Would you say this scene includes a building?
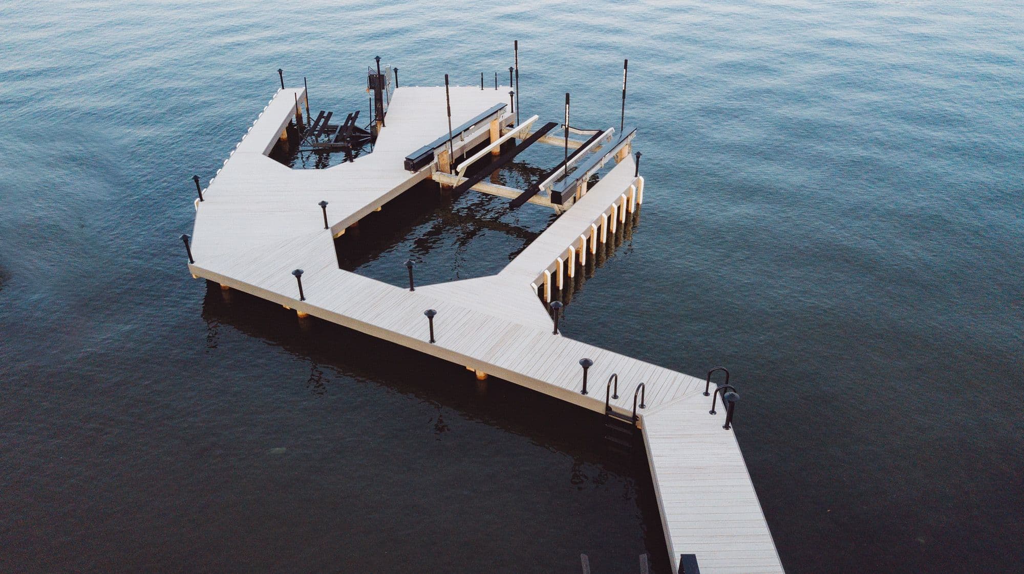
No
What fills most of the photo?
water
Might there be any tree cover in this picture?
No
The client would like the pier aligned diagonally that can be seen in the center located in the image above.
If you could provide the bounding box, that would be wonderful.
[188,86,786,574]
